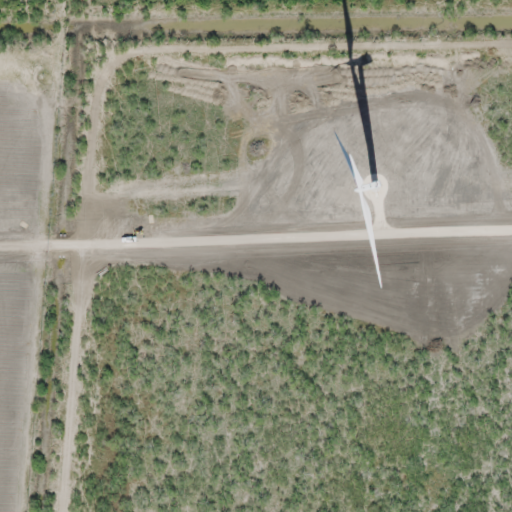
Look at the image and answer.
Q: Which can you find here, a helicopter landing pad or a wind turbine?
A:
wind turbine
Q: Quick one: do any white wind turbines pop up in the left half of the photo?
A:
No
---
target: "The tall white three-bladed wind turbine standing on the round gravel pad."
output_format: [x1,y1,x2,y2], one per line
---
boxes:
[335,134,382,286]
